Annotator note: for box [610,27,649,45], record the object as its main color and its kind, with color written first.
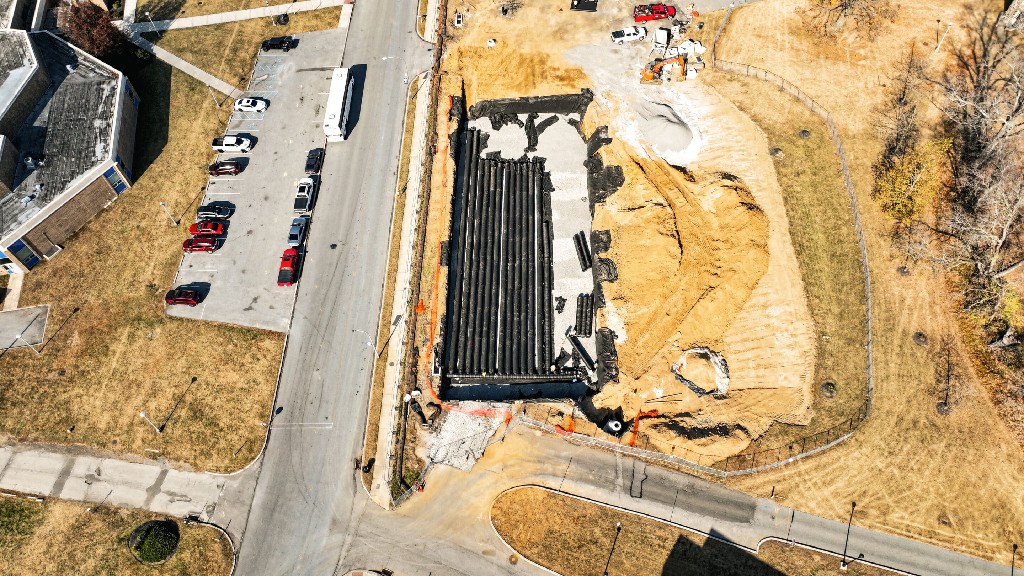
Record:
white vehicle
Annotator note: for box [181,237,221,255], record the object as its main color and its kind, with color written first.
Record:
red car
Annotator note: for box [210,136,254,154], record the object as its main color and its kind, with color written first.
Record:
white vehicle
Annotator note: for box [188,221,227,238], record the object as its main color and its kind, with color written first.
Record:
red car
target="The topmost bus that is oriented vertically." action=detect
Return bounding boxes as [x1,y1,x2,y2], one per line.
[325,69,355,151]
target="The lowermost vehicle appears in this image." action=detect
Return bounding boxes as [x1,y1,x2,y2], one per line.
[162,289,205,308]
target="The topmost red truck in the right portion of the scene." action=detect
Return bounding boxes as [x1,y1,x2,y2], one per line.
[633,0,677,21]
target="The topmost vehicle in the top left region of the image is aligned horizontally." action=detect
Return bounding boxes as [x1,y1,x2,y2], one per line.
[258,36,297,53]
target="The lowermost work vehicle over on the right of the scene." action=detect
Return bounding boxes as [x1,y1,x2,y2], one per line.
[639,52,688,84]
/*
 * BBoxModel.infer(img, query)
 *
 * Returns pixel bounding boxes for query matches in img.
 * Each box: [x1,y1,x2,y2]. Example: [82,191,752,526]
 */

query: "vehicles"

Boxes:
[258,36,297,53]
[207,161,244,178]
[188,221,227,238]
[233,98,269,113]
[304,149,324,176]
[210,136,254,154]
[287,217,309,247]
[610,27,649,45]
[276,247,300,287]
[181,237,221,255]
[633,0,677,21]
[639,52,688,84]
[194,204,233,222]
[325,69,355,151]
[162,289,205,308]
[293,178,315,213]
